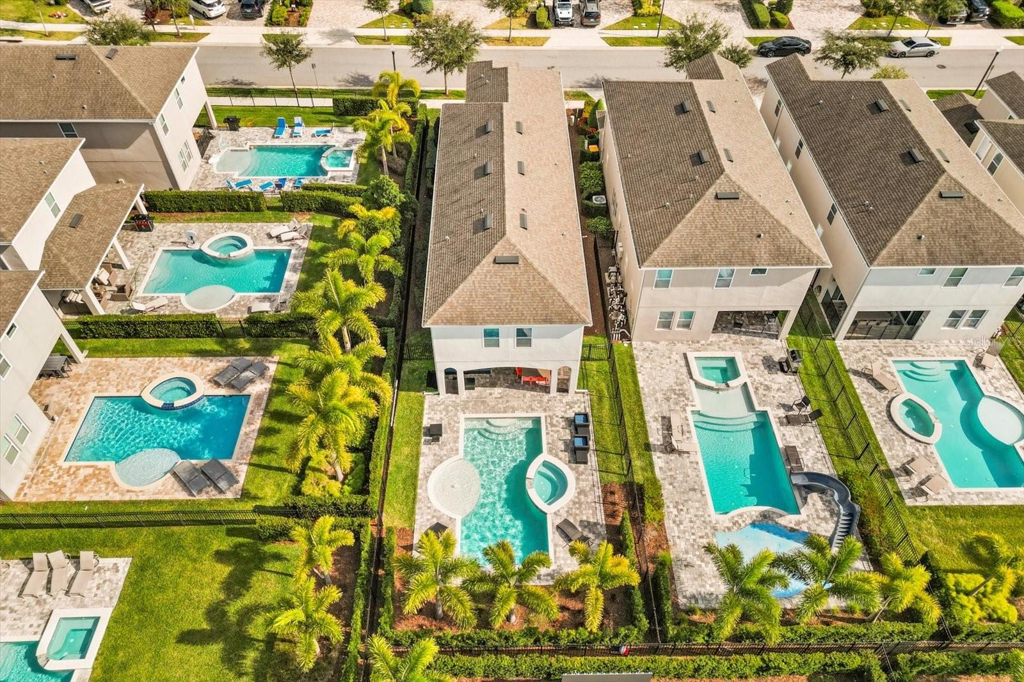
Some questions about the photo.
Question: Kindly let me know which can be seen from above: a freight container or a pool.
pool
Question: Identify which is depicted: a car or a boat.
car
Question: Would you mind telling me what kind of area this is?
residential area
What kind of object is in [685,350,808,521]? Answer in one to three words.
swimming pool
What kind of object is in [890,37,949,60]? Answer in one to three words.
car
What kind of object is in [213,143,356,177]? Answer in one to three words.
swimming pool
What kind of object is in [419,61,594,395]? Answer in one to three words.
house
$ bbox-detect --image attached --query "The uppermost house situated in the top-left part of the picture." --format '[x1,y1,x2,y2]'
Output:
[0,46,218,190]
